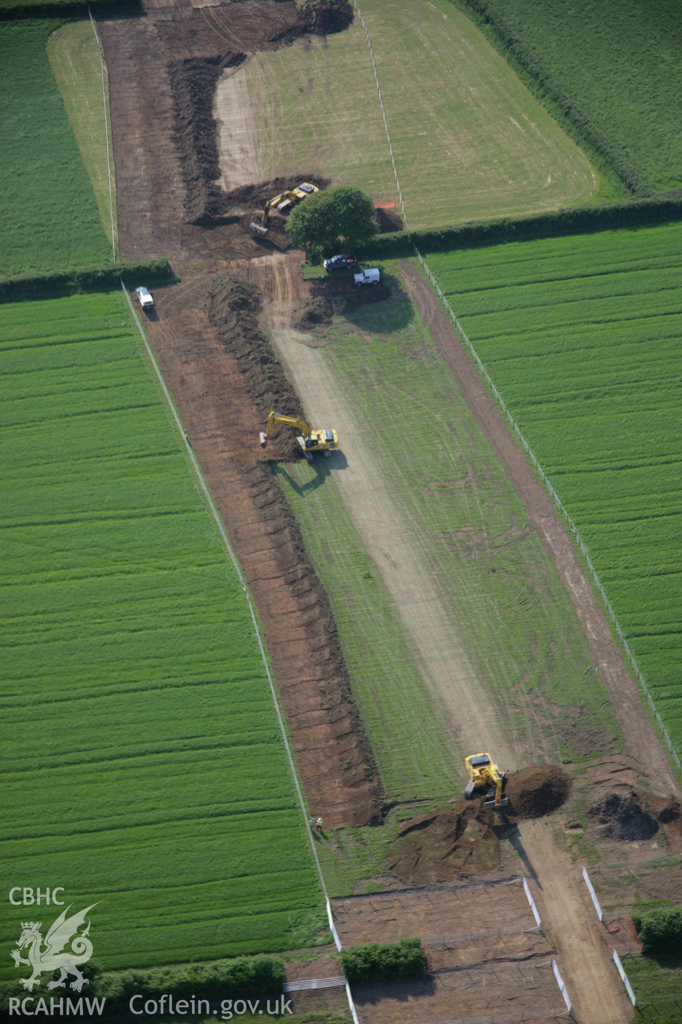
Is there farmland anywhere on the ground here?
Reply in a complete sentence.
Yes, farmland can be seen from above here.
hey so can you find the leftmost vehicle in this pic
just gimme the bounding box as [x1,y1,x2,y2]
[138,290,156,309]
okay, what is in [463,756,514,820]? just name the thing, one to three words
work vehicle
